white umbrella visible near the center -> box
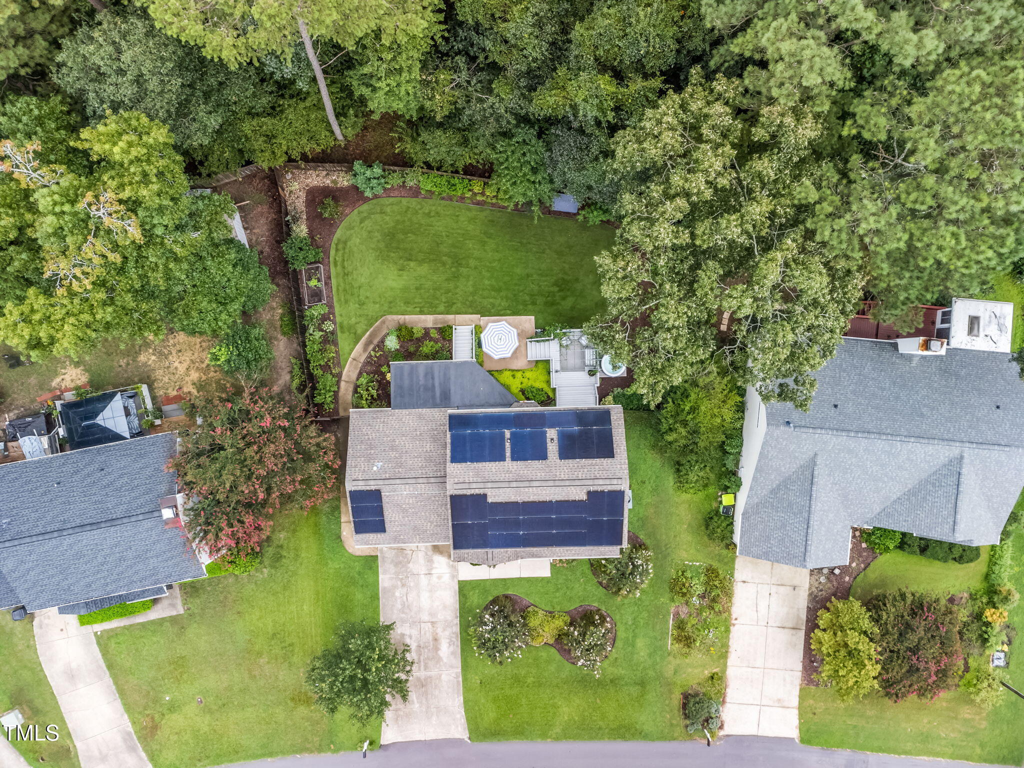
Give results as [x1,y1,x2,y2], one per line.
[481,321,521,361]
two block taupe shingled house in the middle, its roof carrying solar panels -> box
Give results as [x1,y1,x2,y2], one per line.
[342,357,632,572]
